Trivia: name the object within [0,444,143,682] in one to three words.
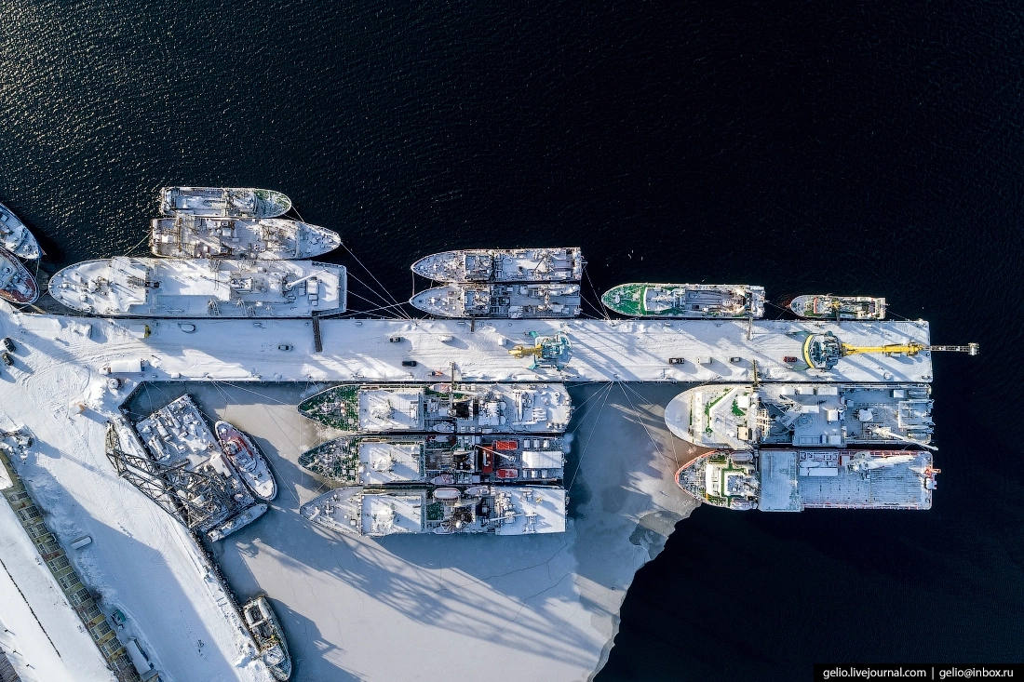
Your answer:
warehouse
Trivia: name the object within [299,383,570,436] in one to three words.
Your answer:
boat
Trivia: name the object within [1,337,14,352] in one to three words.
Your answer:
vehicle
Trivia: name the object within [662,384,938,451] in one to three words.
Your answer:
ship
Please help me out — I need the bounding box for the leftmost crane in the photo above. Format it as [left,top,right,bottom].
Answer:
[106,394,256,534]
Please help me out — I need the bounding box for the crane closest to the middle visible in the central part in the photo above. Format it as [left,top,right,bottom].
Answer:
[507,331,572,369]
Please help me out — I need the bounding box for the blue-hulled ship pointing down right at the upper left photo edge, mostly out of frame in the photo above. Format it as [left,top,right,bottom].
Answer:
[0,197,51,264]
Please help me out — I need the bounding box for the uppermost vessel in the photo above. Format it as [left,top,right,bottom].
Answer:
[160,186,292,220]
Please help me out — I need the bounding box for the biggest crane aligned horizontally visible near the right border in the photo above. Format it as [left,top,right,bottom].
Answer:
[788,330,978,373]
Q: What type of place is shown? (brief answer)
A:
port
